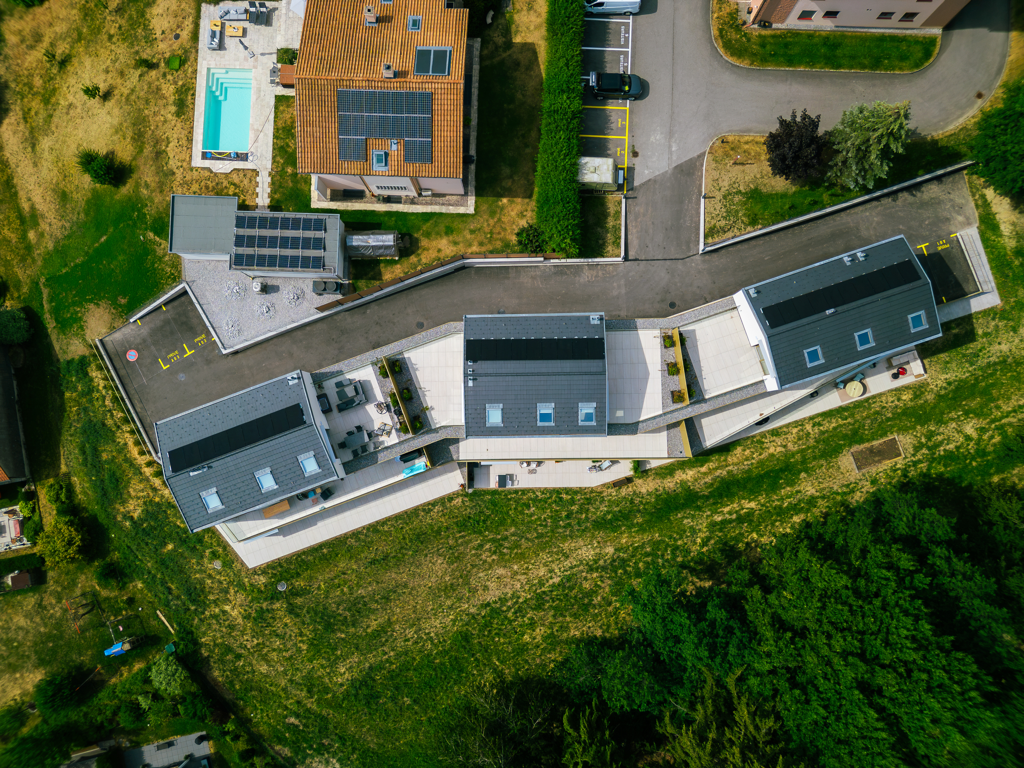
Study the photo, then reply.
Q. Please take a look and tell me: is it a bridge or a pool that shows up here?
pool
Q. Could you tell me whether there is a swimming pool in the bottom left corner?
No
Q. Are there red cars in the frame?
No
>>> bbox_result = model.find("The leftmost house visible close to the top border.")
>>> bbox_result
[293,0,470,200]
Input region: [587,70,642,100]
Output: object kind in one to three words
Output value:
car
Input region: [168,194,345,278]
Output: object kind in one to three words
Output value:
building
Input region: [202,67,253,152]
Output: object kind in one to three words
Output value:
swimming pool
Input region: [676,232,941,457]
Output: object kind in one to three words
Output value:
house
